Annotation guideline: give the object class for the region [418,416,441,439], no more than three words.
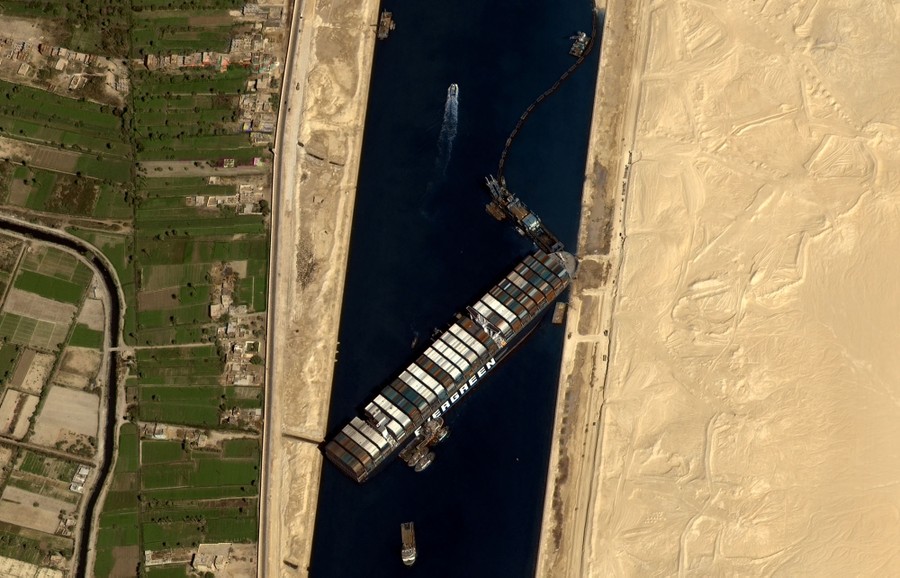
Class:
vessel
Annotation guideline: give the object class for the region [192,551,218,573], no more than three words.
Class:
house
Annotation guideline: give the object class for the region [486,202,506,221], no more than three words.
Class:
ship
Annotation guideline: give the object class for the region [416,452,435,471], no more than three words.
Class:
boat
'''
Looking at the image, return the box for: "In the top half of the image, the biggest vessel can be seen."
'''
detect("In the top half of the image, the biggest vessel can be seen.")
[485,175,565,254]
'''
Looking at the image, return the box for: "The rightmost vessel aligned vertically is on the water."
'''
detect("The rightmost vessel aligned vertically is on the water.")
[552,303,565,324]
